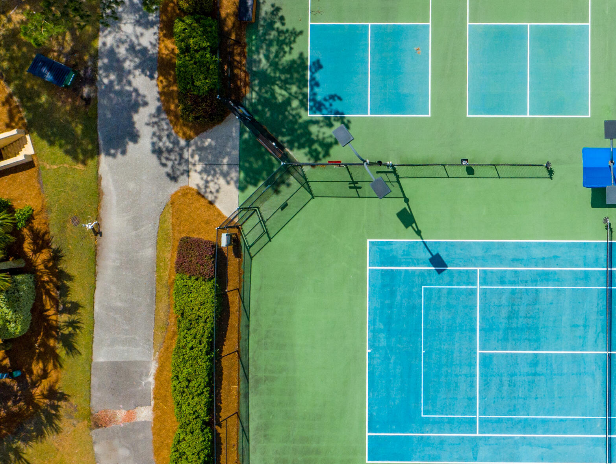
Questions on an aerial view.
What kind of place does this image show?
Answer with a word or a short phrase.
sports ground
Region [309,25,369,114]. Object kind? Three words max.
sports court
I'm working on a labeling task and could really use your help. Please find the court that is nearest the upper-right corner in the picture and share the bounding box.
[529,25,588,115]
